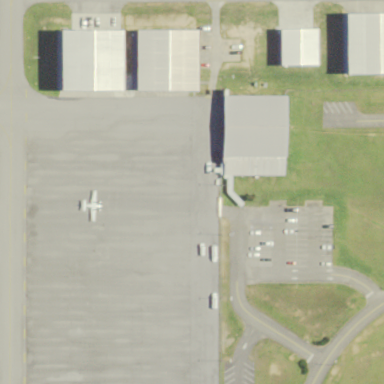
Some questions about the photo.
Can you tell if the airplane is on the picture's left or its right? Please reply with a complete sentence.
It is on the left.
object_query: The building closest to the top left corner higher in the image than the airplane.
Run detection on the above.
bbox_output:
[58,31,126,92]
